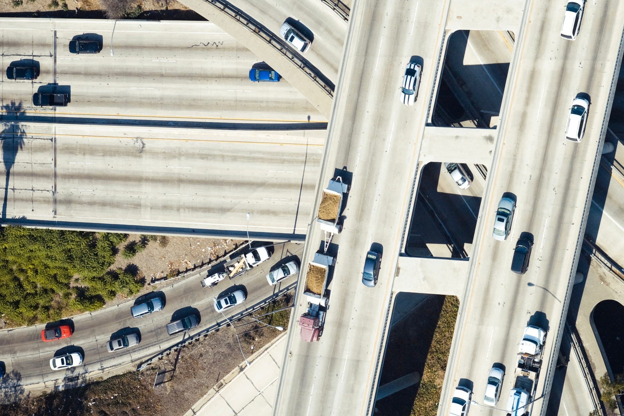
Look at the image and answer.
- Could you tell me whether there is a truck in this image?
Yes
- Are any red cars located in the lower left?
Yes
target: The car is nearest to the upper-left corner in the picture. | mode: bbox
[7,64,38,81]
